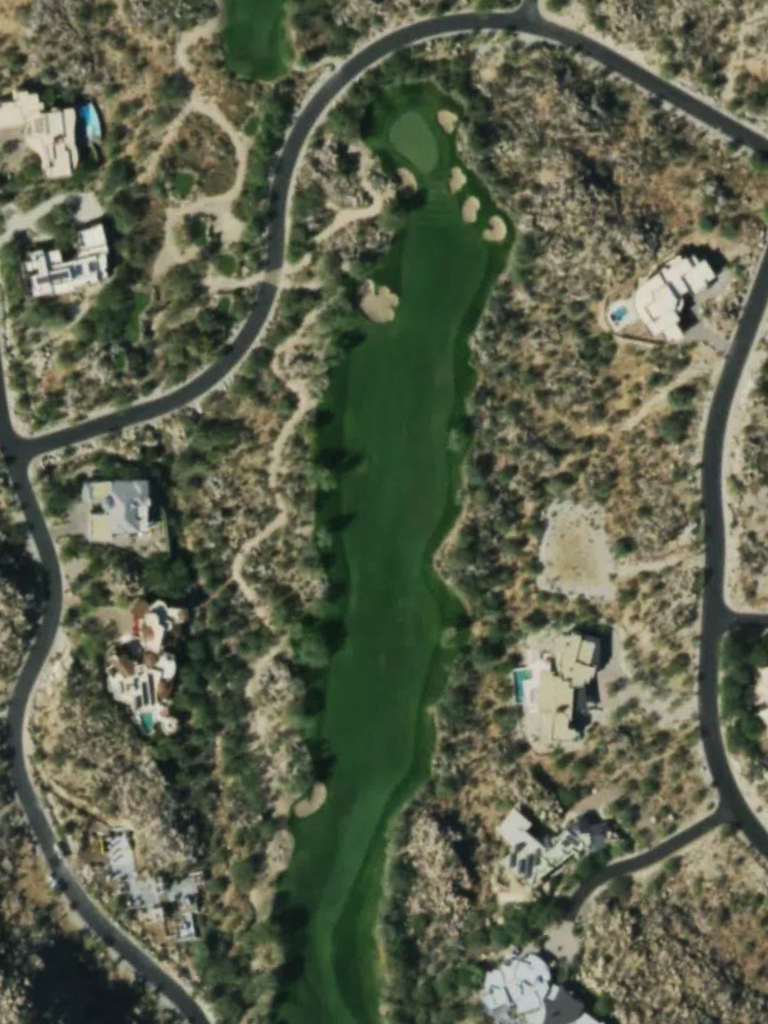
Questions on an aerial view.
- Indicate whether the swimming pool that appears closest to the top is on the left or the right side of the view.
left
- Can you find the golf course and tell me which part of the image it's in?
center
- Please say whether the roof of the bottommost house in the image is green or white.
white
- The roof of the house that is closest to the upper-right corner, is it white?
Yes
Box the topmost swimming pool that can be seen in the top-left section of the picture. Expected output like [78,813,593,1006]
[79,101,102,145]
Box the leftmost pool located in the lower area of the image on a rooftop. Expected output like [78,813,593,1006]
[140,710,155,733]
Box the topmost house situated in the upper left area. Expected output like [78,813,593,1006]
[0,90,103,178]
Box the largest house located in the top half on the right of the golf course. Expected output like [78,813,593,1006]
[608,255,716,343]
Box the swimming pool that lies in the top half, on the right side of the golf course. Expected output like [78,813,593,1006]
[608,304,629,323]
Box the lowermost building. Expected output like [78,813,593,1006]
[483,950,551,1024]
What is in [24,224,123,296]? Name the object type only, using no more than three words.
house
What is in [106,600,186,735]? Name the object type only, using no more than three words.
house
